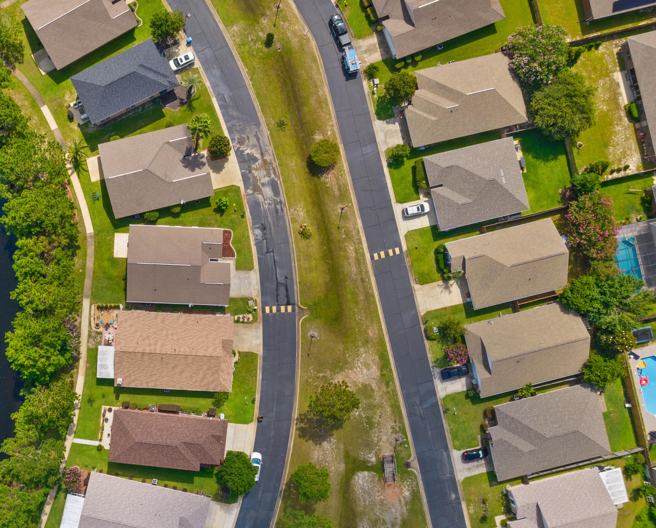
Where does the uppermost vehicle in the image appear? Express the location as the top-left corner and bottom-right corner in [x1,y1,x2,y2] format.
[330,14,352,48]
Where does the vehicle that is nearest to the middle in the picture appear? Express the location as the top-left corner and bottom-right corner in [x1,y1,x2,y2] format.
[401,201,430,217]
